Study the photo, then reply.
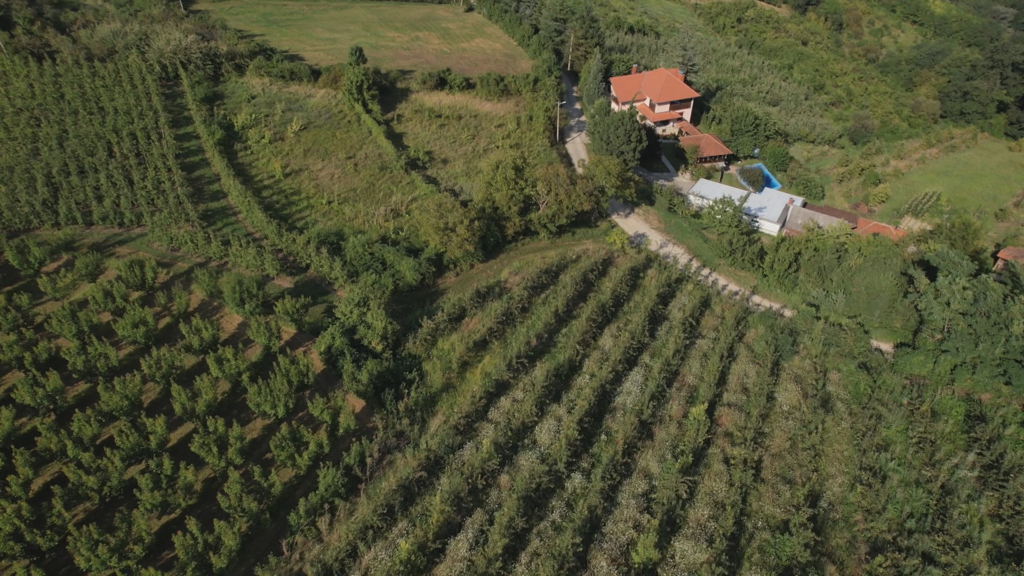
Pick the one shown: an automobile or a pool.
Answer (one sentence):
Of the two, only a pool appears.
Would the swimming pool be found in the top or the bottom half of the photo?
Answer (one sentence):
It is in the top half that the swimming pool appears.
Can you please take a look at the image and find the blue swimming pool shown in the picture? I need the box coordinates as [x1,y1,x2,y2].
[736,163,783,194]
